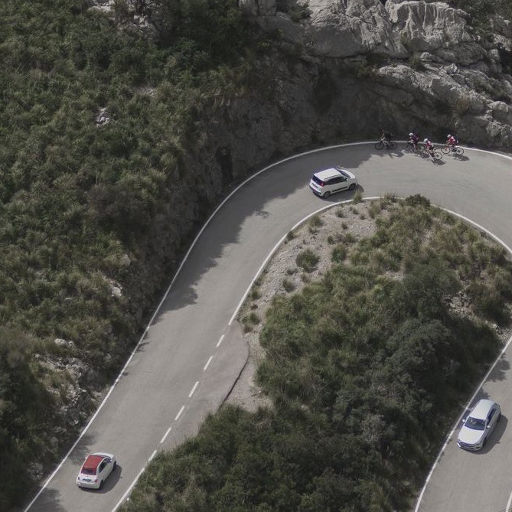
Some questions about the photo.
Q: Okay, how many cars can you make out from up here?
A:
3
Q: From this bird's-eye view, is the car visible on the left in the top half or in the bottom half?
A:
bottom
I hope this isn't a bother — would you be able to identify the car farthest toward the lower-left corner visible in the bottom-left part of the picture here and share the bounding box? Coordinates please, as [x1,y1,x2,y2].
[80,451,120,489]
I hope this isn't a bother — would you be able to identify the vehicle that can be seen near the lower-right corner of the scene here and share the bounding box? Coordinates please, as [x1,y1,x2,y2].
[457,401,501,452]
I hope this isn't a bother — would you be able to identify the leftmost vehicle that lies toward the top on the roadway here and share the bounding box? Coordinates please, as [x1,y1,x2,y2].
[311,167,356,196]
